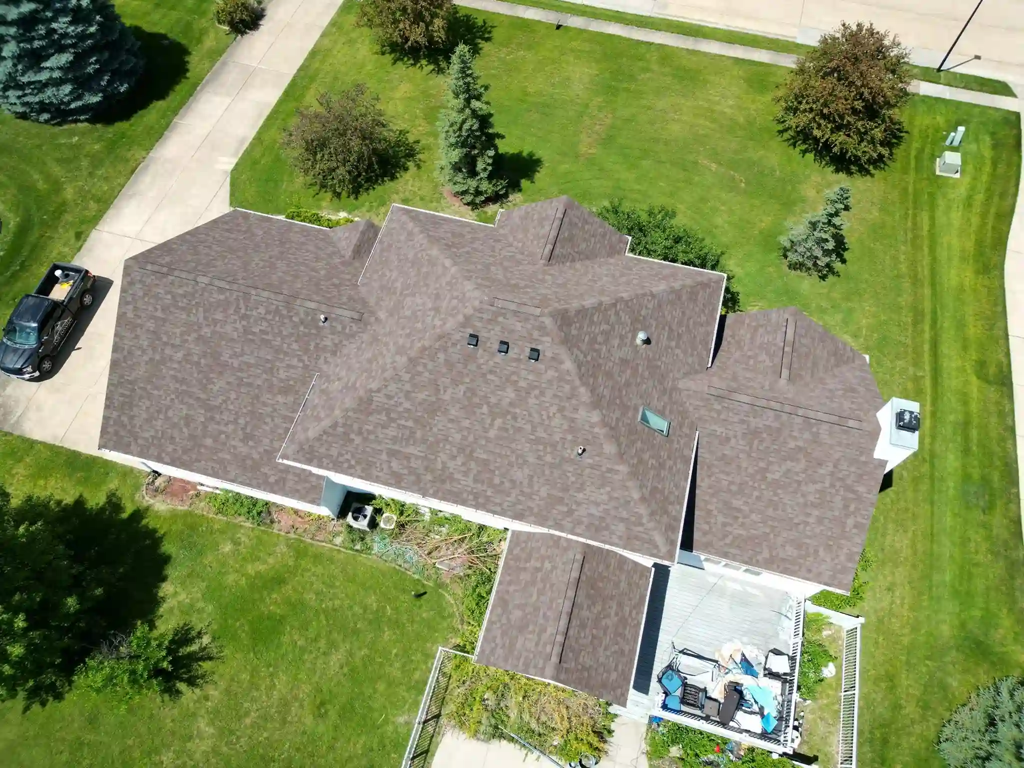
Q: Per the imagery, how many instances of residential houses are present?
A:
1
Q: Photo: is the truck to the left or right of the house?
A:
left of it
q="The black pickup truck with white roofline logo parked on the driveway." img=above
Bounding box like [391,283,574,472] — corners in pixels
[0,260,102,382]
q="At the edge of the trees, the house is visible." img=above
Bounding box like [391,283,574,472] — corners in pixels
[98,195,921,709]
